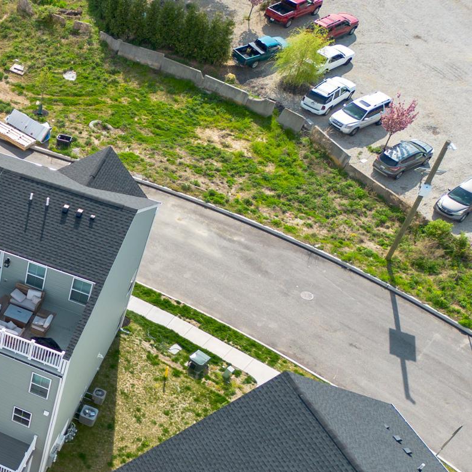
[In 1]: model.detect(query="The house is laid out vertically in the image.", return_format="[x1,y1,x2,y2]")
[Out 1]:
[0,145,159,472]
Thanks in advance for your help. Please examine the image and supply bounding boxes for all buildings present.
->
[122,371,447,472]
[0,145,159,472]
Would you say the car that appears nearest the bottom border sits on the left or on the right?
right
